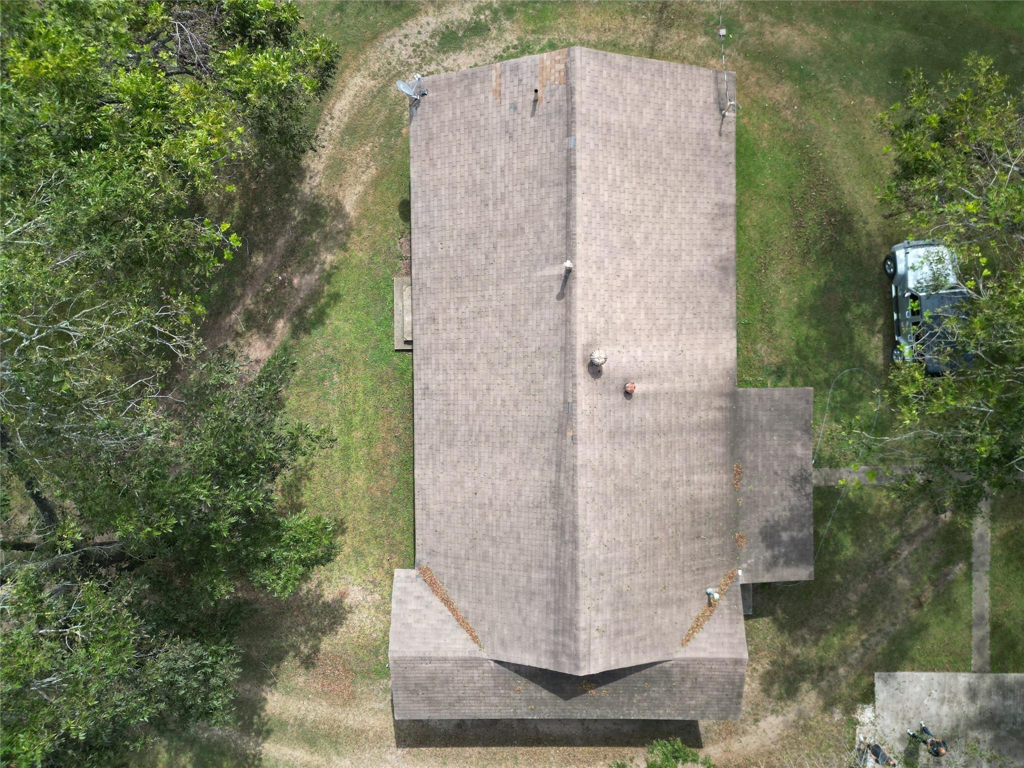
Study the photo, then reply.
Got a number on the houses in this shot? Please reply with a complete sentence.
Only 1 house is visible.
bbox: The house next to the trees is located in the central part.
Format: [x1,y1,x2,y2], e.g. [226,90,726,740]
[388,46,814,720]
